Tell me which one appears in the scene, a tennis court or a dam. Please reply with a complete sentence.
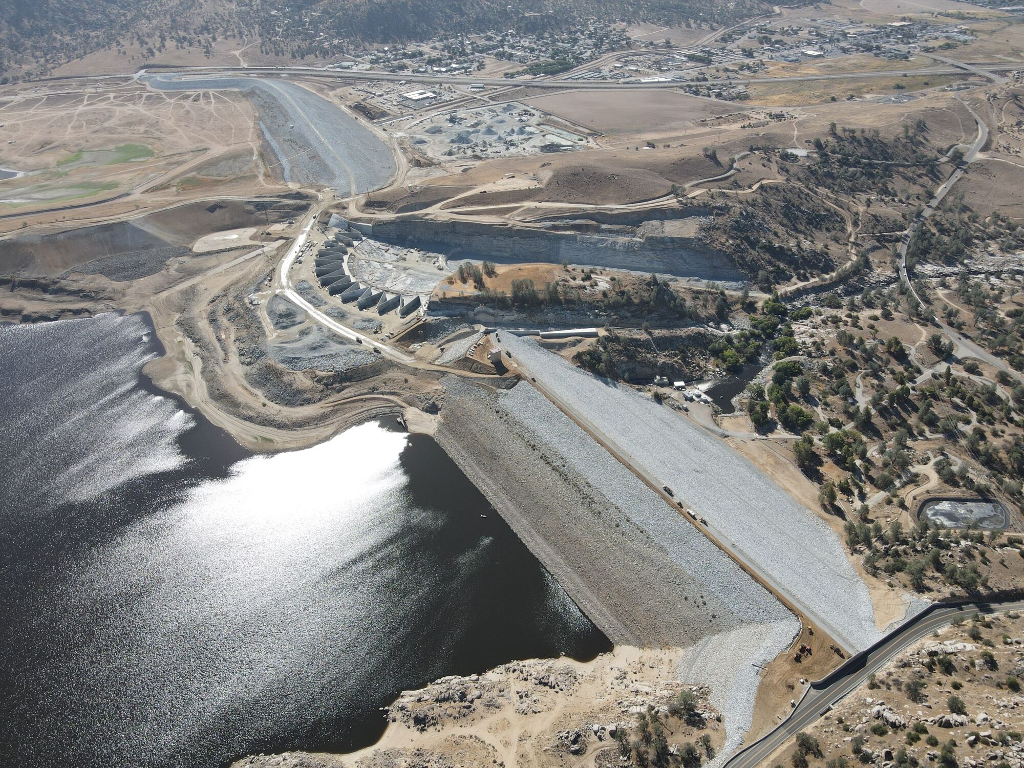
There is a dam in the scene.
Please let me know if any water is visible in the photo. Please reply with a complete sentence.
Yes, there is water in the image.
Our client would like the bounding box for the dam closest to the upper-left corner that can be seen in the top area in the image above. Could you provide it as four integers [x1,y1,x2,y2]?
[146,74,397,197]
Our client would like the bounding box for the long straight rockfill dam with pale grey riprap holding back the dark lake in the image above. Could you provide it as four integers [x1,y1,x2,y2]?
[435,332,885,660]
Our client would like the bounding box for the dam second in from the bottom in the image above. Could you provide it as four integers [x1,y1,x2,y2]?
[315,228,424,317]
